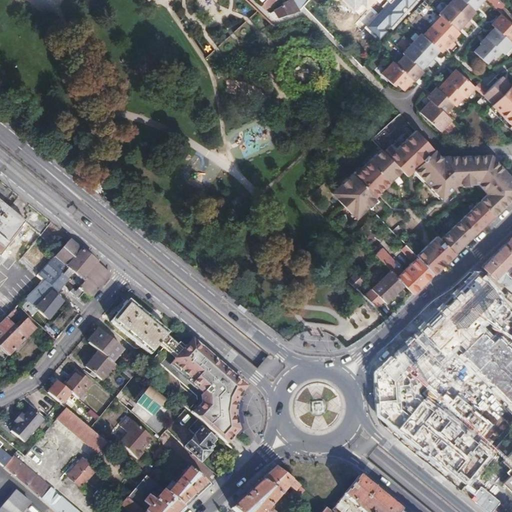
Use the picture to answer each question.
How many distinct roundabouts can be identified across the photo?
one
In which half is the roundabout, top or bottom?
bottom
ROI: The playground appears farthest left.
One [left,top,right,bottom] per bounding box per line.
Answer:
[190,150,222,182]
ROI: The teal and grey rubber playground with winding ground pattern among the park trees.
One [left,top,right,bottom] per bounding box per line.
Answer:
[228,119,275,160]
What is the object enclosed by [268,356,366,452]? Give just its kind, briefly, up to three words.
roundabout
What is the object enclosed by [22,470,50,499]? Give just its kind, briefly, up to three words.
shed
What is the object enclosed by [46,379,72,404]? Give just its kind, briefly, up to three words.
house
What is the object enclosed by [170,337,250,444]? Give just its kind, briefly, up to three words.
building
